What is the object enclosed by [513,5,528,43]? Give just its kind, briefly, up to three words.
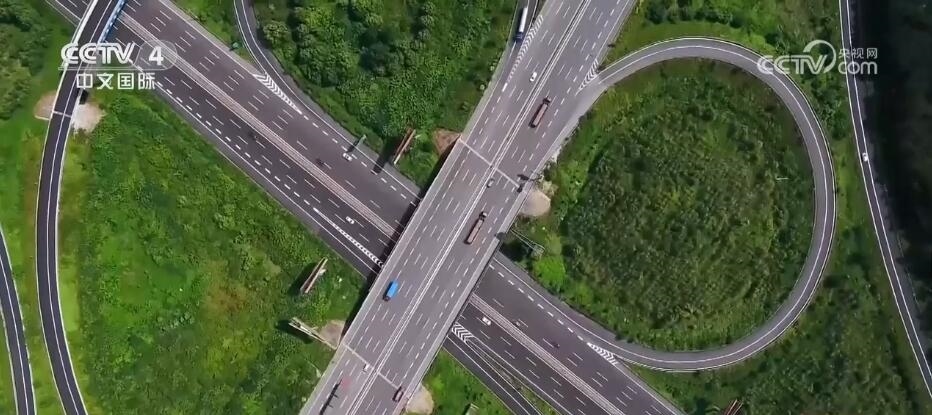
vehicle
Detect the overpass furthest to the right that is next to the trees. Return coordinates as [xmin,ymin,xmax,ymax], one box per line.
[301,0,636,415]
